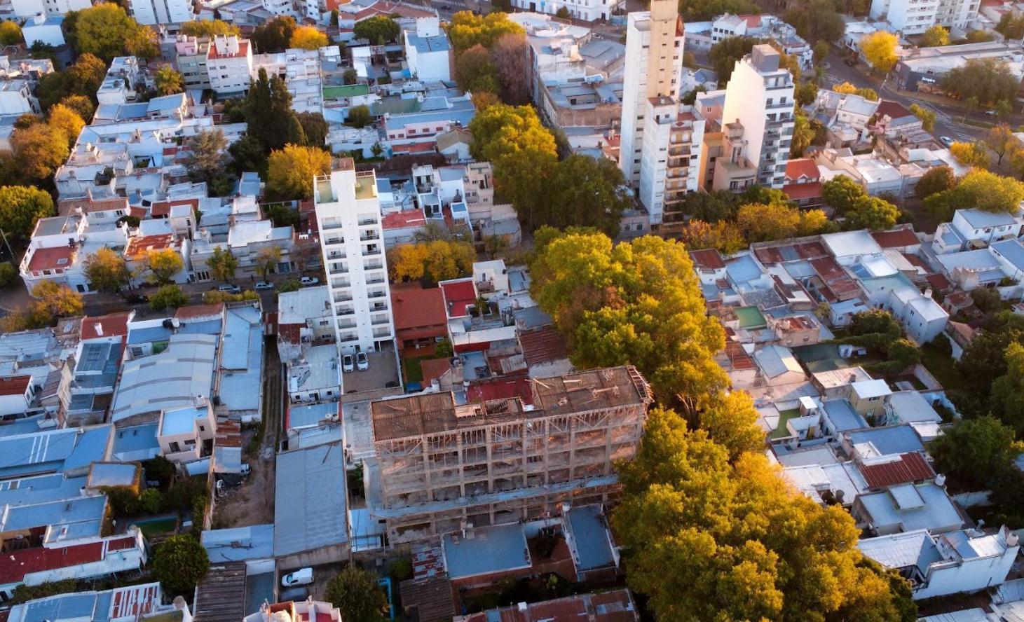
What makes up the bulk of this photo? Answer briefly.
buildings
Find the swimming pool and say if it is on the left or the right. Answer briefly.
left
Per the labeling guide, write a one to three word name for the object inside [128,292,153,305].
vehicle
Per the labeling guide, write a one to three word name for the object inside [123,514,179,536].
swimming pool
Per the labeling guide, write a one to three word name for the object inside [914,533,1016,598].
house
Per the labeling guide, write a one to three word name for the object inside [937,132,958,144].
vehicle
